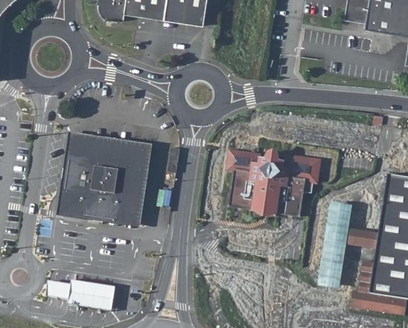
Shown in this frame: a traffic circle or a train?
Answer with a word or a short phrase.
traffic circle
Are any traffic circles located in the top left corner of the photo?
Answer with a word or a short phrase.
Yes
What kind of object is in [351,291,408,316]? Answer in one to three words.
shed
